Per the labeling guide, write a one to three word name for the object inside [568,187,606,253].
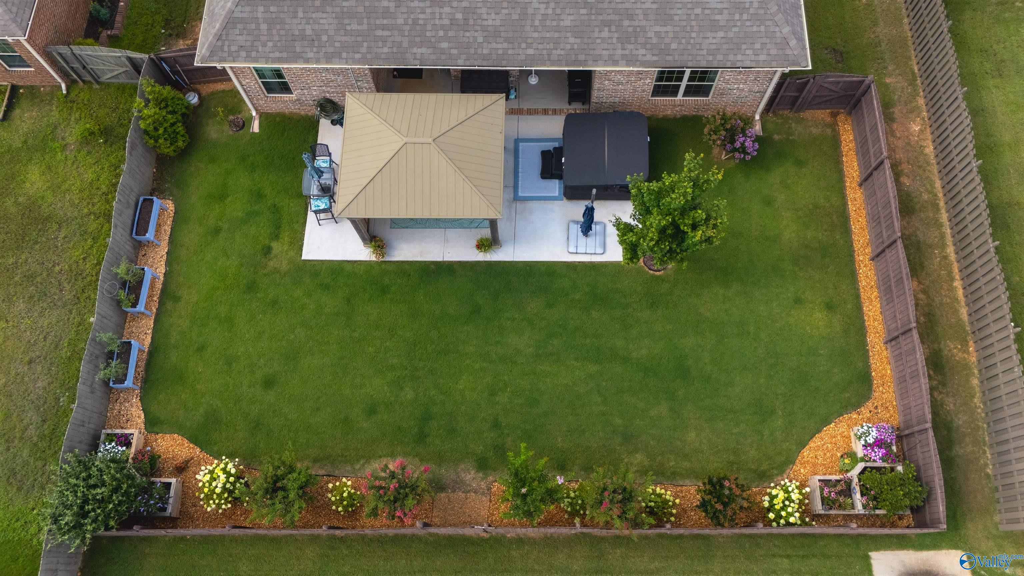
umbrella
